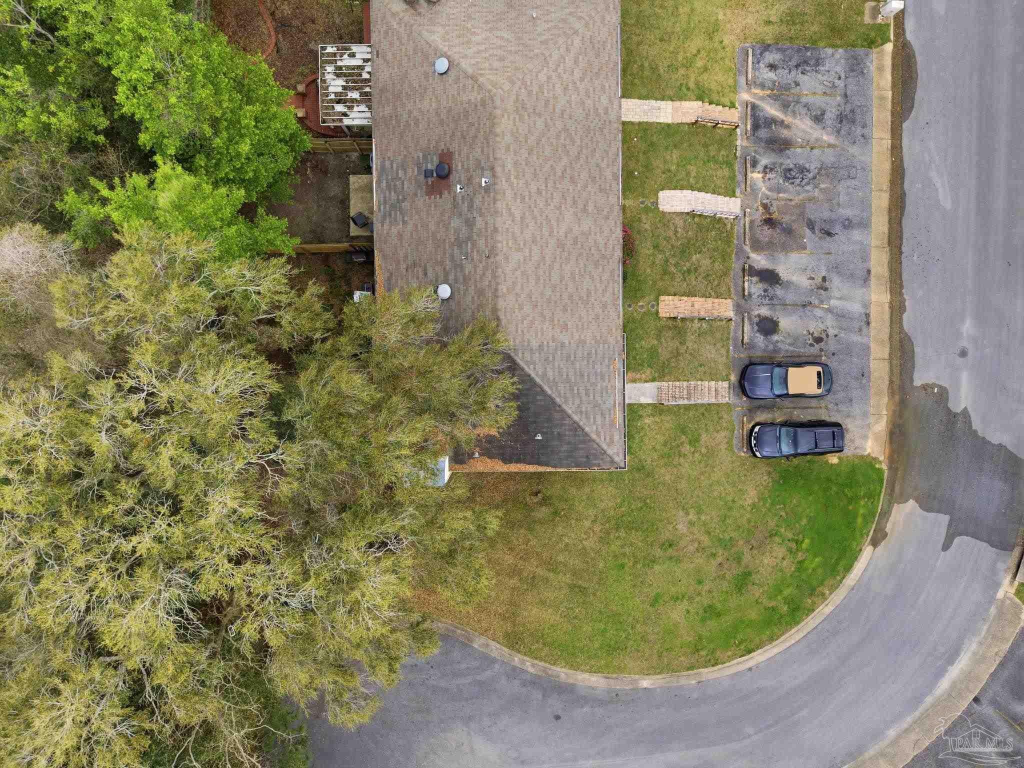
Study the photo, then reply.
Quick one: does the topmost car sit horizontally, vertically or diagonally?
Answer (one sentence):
The topmost car is oriented horizontally.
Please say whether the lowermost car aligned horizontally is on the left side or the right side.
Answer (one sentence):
The lowermost car aligned horizontally appears in the right half of the scene.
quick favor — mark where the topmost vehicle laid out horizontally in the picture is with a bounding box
[736,359,833,402]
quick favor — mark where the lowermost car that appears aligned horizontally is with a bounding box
[745,417,847,462]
